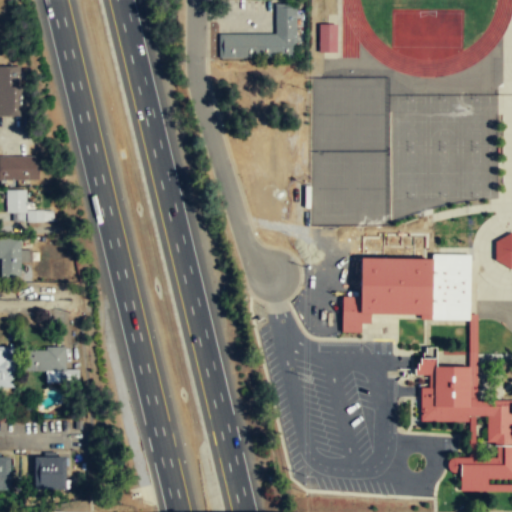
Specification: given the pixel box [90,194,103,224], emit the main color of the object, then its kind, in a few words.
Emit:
white vehicle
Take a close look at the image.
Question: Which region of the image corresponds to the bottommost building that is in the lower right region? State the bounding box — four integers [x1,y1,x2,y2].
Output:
[450,448,512,492]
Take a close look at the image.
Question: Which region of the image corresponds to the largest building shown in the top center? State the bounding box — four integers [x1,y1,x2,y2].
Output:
[219,4,298,58]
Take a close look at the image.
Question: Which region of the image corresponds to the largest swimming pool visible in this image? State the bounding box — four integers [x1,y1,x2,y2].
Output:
[38,388,62,413]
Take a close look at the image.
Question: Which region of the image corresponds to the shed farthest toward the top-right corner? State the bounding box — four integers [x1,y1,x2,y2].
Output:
[320,24,338,52]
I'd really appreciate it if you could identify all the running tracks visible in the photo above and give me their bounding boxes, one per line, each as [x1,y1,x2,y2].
[343,0,504,77]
